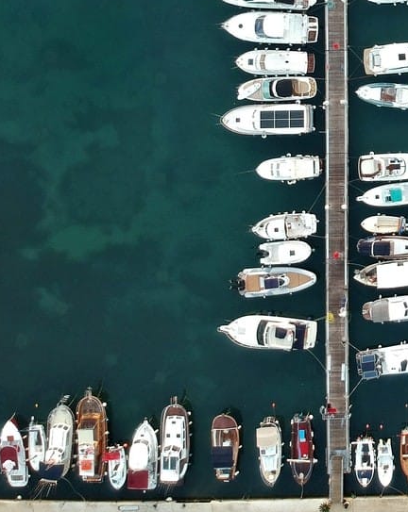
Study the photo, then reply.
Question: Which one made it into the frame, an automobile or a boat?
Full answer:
Visible in the photo is a boat.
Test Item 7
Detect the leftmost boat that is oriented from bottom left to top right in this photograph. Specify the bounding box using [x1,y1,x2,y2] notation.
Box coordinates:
[237,79,262,98]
